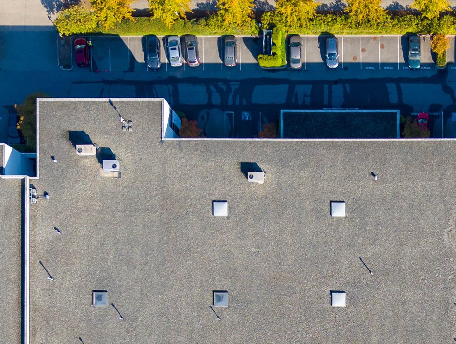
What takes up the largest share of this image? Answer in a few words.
buildings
